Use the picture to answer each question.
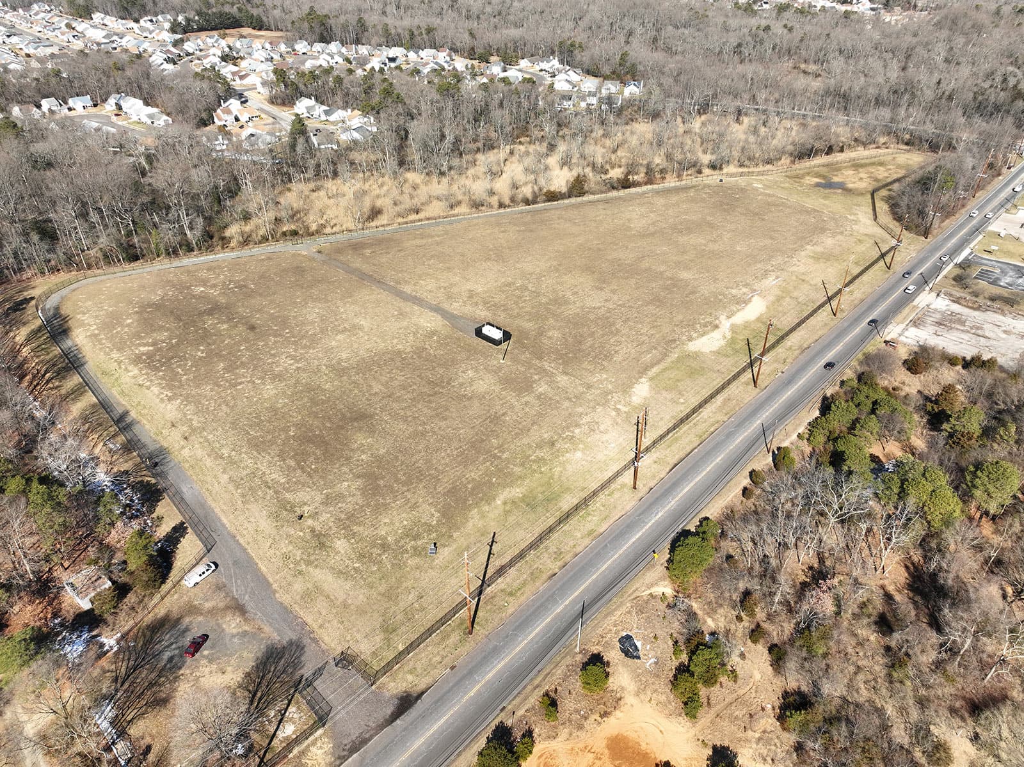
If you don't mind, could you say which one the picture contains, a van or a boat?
van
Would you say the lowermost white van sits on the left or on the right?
left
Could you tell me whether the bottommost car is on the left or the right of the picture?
left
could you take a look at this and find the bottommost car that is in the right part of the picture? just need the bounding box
[822,360,837,373]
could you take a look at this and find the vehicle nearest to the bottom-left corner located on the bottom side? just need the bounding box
[182,632,212,663]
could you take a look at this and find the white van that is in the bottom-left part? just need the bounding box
[179,561,219,593]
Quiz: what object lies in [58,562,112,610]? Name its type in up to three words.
building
